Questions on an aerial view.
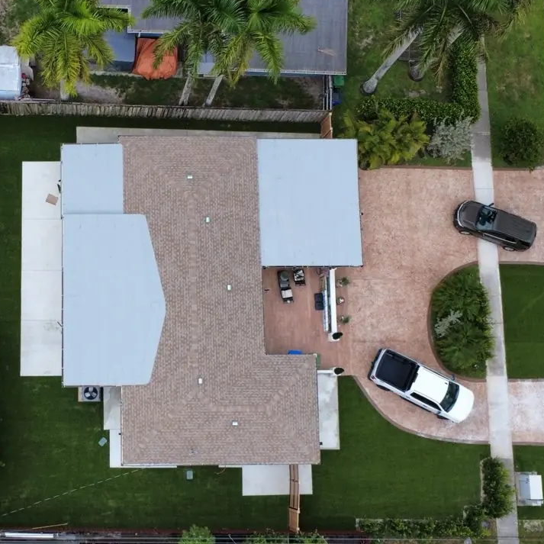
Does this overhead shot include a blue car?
No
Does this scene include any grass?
Yes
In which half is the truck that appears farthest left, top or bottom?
bottom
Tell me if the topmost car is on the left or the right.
right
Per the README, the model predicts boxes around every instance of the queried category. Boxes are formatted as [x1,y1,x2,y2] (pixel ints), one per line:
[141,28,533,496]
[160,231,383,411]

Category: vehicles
[452,196,543,254]
[366,345,474,425]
